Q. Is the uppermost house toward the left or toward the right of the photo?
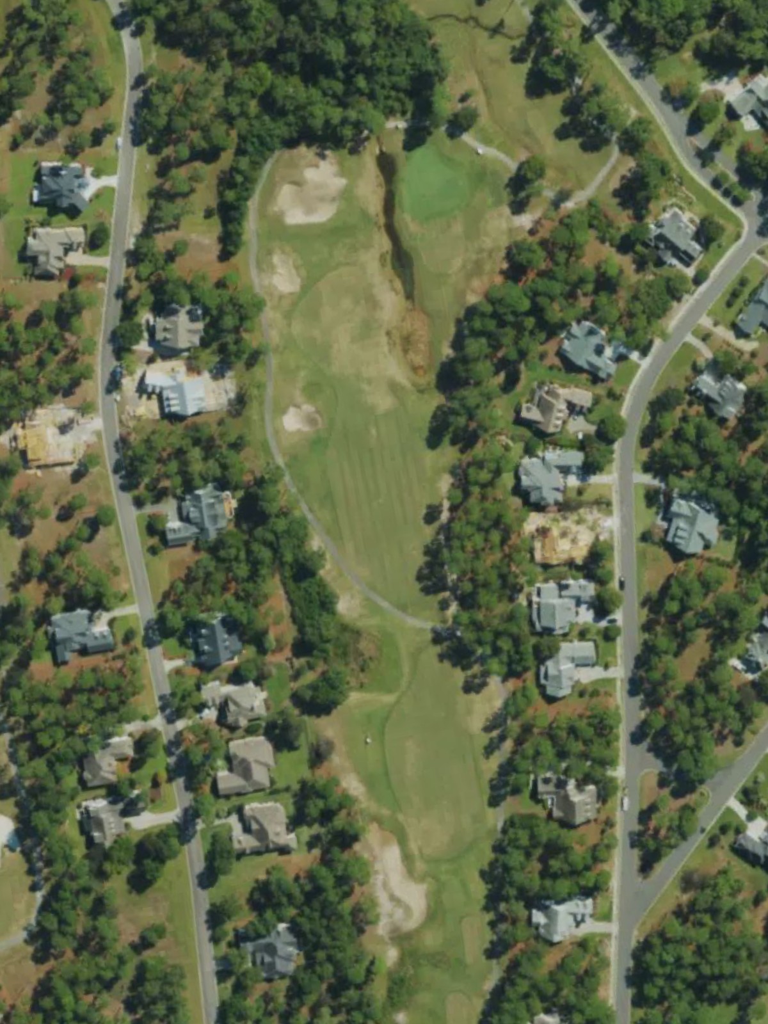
right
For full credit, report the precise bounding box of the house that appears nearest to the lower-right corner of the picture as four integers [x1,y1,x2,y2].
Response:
[732,820,768,866]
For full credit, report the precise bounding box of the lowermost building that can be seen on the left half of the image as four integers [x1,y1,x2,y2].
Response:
[239,921,304,973]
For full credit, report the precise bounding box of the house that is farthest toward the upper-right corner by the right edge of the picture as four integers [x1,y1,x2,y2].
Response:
[729,68,768,130]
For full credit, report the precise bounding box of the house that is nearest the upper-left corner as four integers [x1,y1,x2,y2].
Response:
[33,162,90,212]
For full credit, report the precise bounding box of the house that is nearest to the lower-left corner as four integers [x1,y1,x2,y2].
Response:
[77,796,130,849]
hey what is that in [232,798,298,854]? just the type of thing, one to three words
house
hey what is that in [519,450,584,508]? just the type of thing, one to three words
house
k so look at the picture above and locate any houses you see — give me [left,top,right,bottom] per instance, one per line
[27,224,85,276]
[540,638,596,696]
[519,450,584,508]
[732,820,768,866]
[671,494,726,556]
[560,317,619,381]
[145,358,228,419]
[530,775,598,827]
[155,303,205,349]
[692,370,749,422]
[199,679,270,727]
[193,617,244,667]
[532,578,596,634]
[519,387,593,435]
[530,894,594,943]
[743,633,768,677]
[239,921,304,973]
[216,732,276,797]
[33,162,90,212]
[647,207,709,270]
[83,735,134,786]
[735,266,768,334]
[49,607,115,663]
[165,482,237,546]
[729,68,768,130]
[77,796,130,849]
[232,798,298,854]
